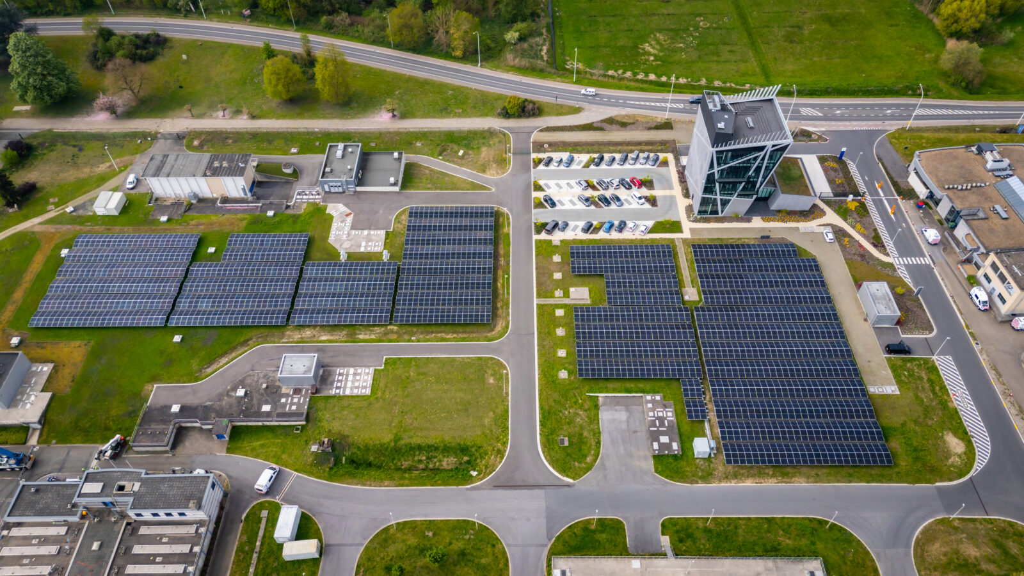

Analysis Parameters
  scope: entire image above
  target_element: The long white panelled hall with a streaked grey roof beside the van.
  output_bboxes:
[138,154,258,200]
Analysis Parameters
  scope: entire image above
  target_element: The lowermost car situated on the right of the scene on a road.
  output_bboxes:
[885,340,911,354]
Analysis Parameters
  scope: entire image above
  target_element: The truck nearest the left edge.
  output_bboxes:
[0,443,48,486]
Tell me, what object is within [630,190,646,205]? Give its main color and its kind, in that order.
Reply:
white car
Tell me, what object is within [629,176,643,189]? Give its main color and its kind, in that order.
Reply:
red vehicle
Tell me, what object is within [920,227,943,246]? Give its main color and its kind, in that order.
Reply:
white vehicle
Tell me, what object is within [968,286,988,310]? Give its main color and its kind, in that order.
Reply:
white vehicle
